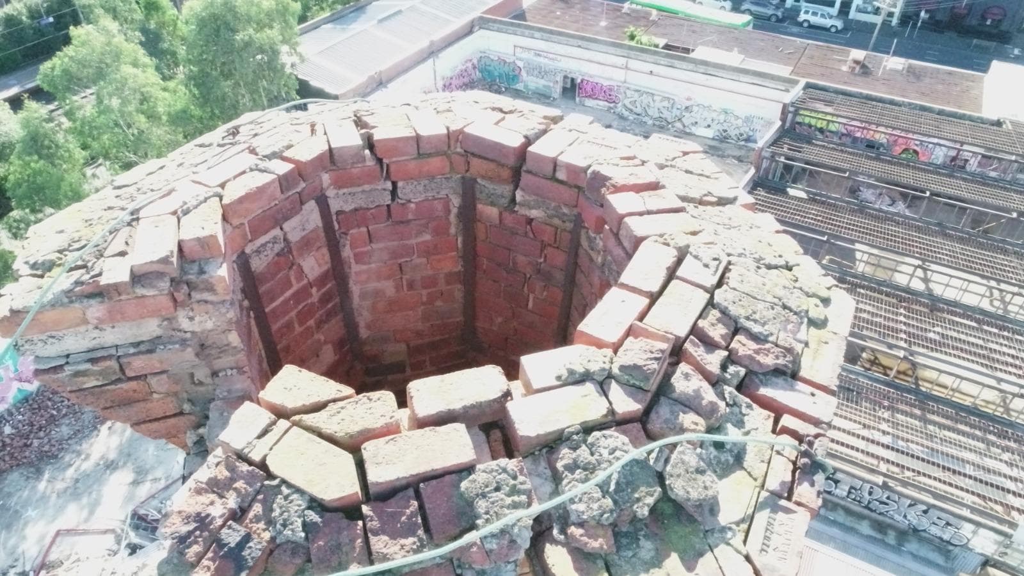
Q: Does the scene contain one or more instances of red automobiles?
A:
No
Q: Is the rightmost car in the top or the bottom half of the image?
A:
top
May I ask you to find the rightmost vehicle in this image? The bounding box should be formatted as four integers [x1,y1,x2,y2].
[798,1,850,30]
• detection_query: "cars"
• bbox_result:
[696,0,737,9]
[798,1,850,30]
[740,0,787,17]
